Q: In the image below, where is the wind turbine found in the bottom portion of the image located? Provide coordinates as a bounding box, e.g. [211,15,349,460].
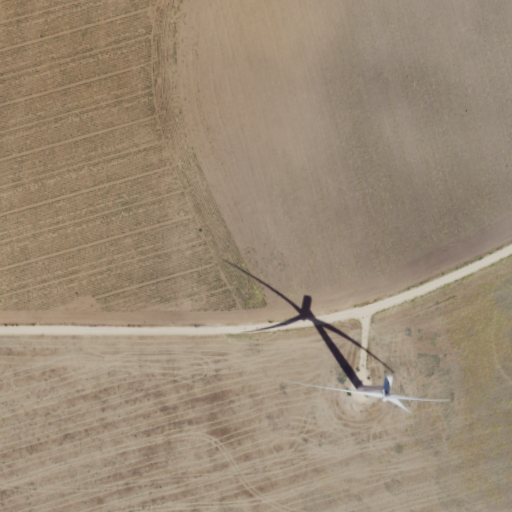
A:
[289,374,444,418]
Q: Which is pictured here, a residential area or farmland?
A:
farmland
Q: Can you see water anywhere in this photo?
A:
No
